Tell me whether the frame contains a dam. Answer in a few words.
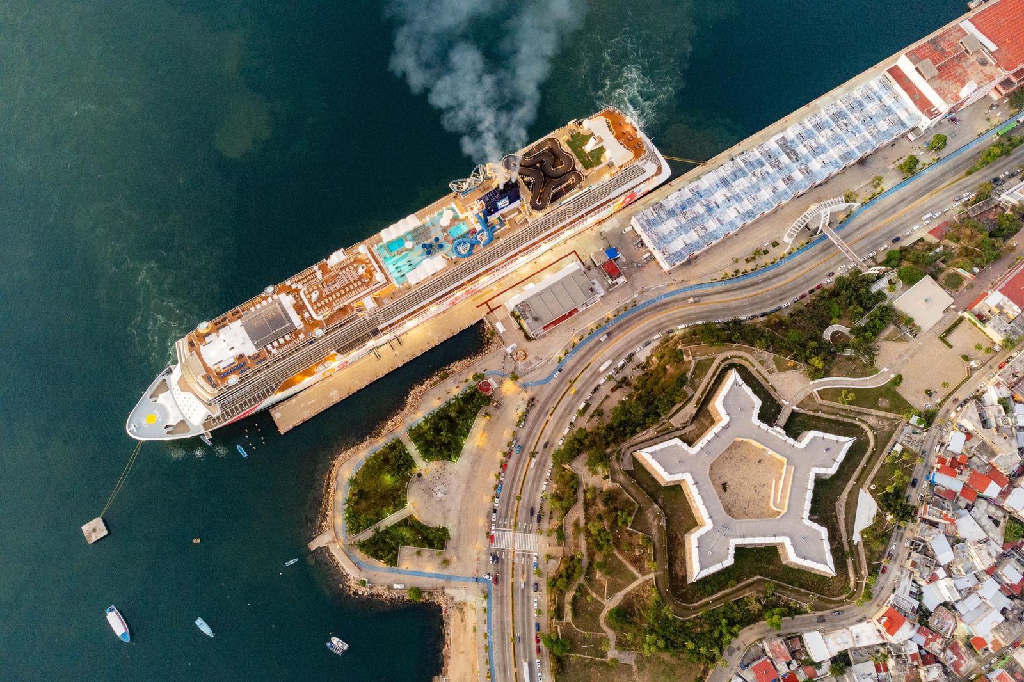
No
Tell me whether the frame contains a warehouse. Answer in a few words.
Yes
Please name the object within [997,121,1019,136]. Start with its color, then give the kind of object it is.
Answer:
green vehicle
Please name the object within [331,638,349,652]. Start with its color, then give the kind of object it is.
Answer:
white boat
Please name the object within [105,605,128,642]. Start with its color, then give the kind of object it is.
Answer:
white boat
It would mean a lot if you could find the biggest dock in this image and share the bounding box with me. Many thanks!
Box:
[269,291,484,435]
